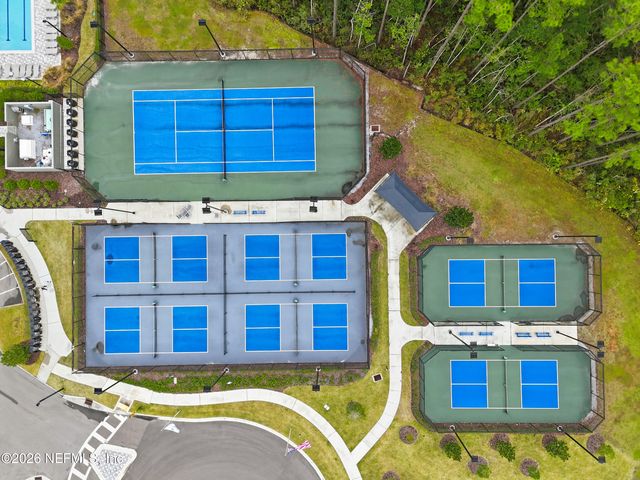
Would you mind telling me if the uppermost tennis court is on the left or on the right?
left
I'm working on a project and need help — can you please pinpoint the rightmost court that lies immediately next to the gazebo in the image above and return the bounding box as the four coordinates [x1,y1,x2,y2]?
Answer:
[423,244,589,321]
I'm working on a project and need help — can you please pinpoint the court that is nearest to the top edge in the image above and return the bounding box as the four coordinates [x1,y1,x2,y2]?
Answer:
[83,60,364,201]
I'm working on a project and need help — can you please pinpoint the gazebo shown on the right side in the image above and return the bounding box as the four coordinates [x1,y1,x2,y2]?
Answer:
[374,171,438,232]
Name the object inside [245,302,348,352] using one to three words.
sports court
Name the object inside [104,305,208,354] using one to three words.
sports court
